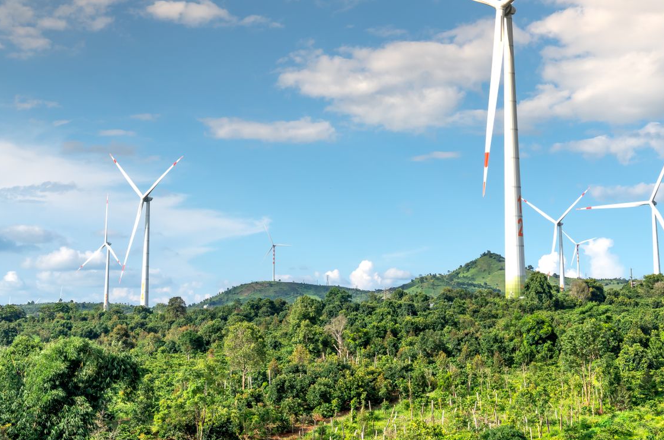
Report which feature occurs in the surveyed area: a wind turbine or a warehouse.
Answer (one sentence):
This aerial view contains a wind turbine.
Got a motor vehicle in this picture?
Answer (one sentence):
No, no motor vehicle is visible in the view.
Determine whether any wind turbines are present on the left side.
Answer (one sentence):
Yes, you'll find a wind turbine on the left side.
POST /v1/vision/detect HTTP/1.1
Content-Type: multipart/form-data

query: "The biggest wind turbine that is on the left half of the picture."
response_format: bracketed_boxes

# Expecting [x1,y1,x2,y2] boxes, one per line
[111,155,184,306]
